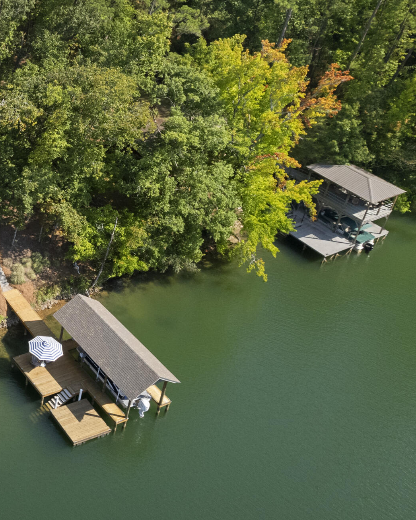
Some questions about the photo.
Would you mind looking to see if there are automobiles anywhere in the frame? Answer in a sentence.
No, there appears to be no automobile in this shot.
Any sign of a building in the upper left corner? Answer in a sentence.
No, in the upper left corner there is no building.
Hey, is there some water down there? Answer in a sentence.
Yes, some water is visible.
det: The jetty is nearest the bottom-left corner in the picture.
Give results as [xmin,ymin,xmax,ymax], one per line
[50,399,113,448]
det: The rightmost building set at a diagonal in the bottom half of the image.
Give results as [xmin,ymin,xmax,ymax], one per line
[52,295,181,426]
